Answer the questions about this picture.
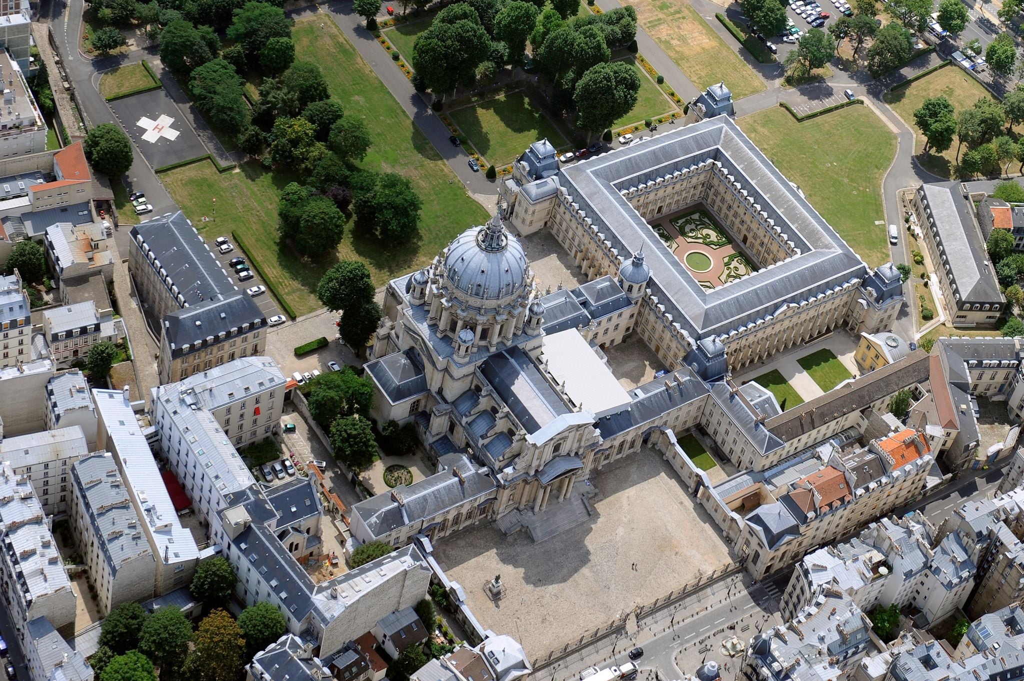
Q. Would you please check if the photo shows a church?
Yes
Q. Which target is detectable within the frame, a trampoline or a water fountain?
water fountain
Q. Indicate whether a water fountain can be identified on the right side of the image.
Yes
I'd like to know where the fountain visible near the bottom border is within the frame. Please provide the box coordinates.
[718,633,747,664]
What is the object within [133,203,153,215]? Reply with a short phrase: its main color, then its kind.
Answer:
white vehicle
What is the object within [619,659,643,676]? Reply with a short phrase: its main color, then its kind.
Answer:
white vehicle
